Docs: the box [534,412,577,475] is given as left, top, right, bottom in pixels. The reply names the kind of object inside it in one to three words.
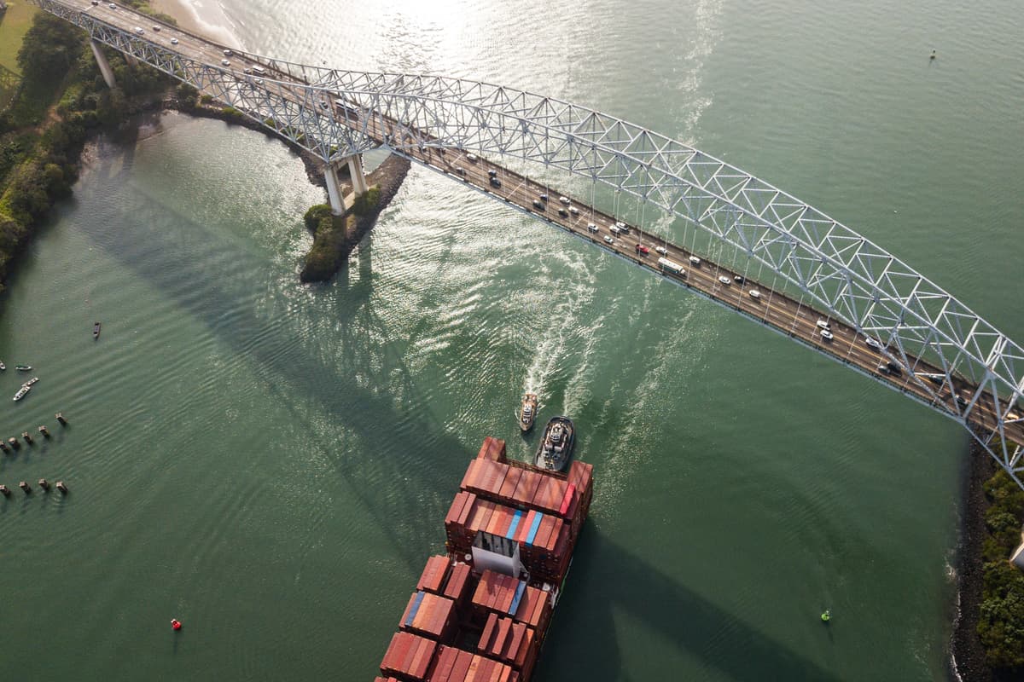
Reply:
boat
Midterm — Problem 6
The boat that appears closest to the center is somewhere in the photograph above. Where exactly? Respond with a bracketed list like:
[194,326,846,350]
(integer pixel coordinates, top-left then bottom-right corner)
[519,390,539,431]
